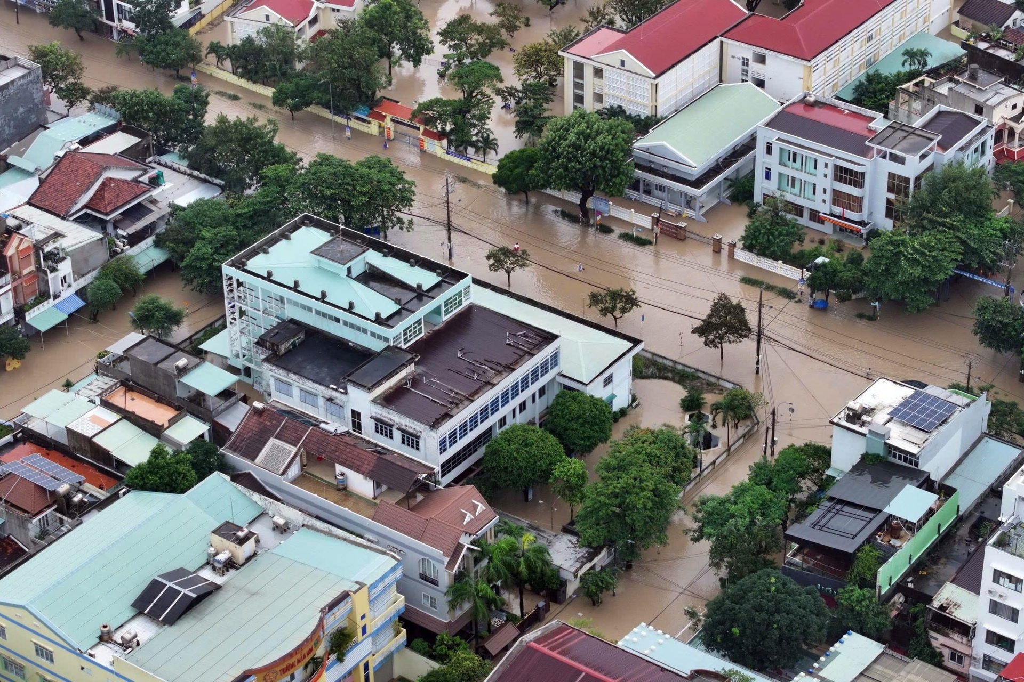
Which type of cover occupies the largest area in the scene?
buildings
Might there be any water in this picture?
Yes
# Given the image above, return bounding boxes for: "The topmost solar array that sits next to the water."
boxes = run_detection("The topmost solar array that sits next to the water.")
[888,390,958,433]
